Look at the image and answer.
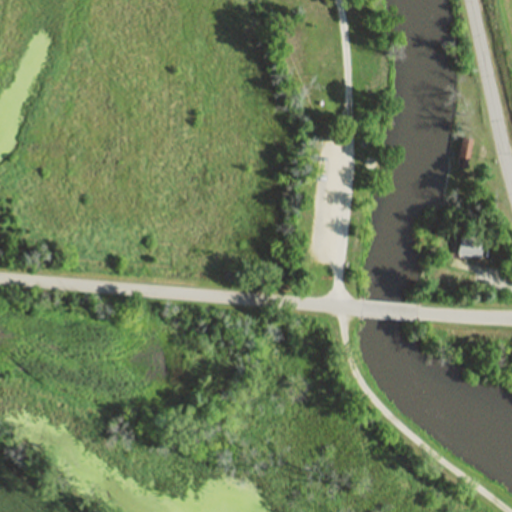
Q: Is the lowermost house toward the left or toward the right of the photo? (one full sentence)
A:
The lowermost house is on the right side of the image.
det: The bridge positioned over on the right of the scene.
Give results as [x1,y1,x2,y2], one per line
[361,300,420,322]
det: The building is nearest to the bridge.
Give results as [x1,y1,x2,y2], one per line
[459,234,484,258]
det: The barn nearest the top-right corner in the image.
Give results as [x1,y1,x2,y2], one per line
[460,136,475,168]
